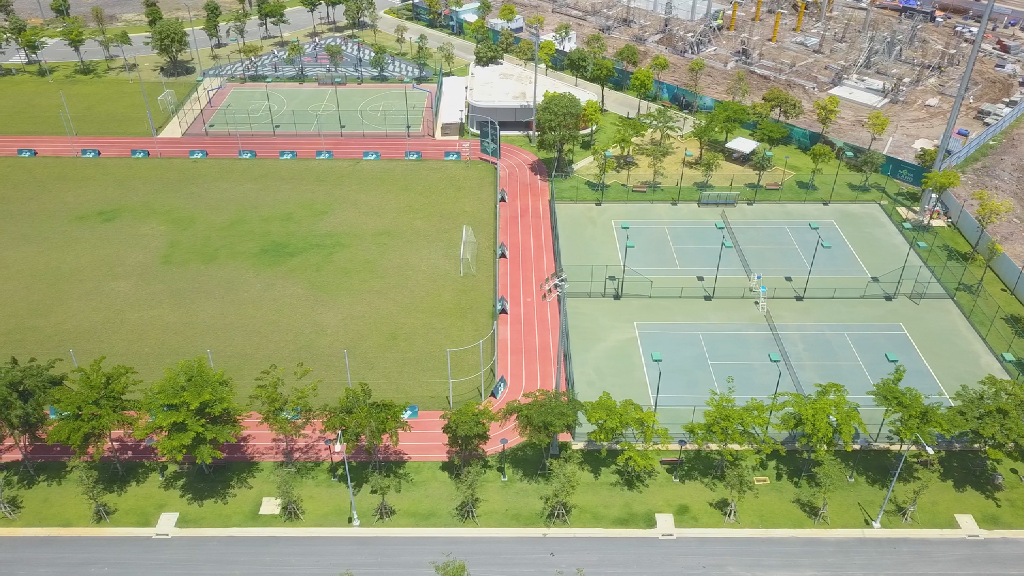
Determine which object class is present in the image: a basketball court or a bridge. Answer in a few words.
basketball court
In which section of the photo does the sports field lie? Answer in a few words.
left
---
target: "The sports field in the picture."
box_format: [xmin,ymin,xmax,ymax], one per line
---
[0,157,497,410]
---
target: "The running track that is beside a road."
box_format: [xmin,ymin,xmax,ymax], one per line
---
[0,136,568,461]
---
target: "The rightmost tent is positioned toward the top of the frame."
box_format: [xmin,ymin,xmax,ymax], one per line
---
[717,135,763,174]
